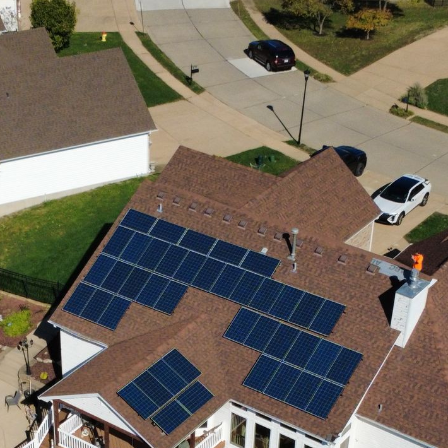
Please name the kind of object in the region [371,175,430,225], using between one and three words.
car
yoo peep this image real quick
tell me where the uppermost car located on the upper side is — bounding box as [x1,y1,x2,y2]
[248,38,297,71]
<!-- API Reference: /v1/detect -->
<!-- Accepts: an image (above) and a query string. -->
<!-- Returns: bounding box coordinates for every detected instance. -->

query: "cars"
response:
[371,175,430,225]
[326,147,365,177]
[248,38,297,71]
